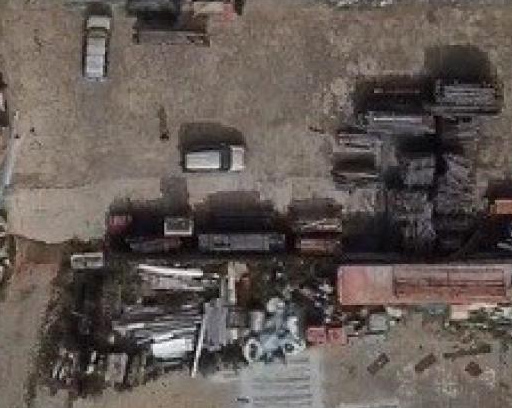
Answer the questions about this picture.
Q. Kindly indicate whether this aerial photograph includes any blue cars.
No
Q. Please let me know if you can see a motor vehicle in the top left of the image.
Yes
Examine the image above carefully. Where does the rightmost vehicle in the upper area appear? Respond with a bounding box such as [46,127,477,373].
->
[183,146,248,174]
